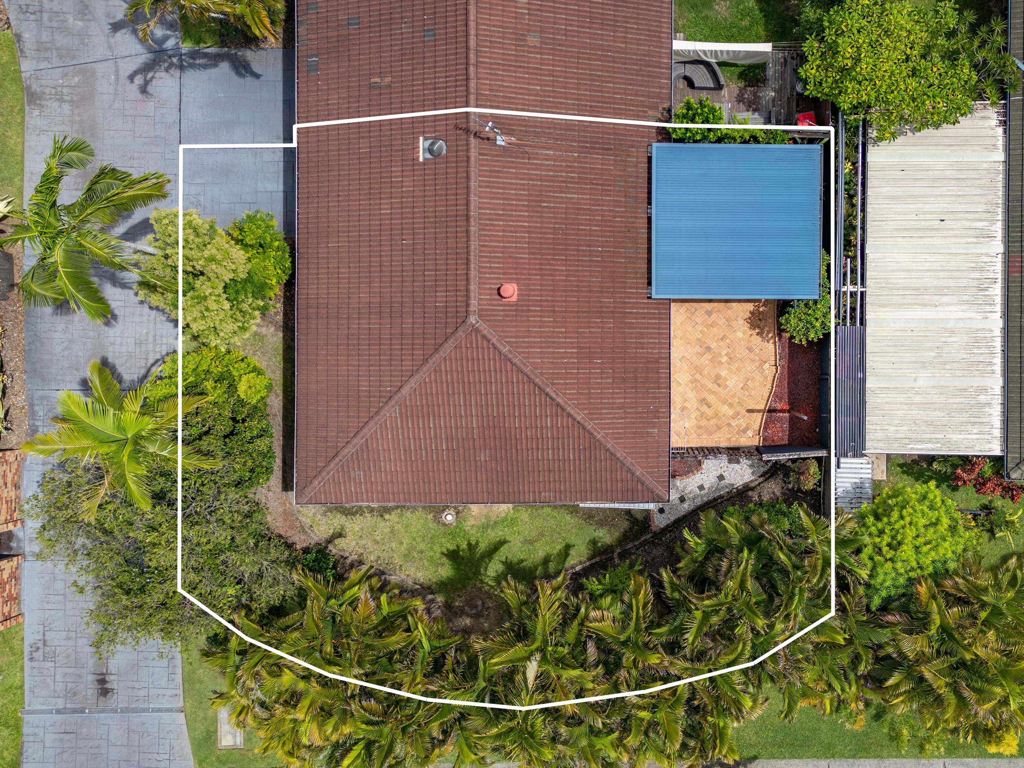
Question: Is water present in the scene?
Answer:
No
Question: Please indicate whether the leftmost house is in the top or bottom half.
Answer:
top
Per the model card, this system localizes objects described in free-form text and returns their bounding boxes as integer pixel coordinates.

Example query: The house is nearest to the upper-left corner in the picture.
[295,0,672,504]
